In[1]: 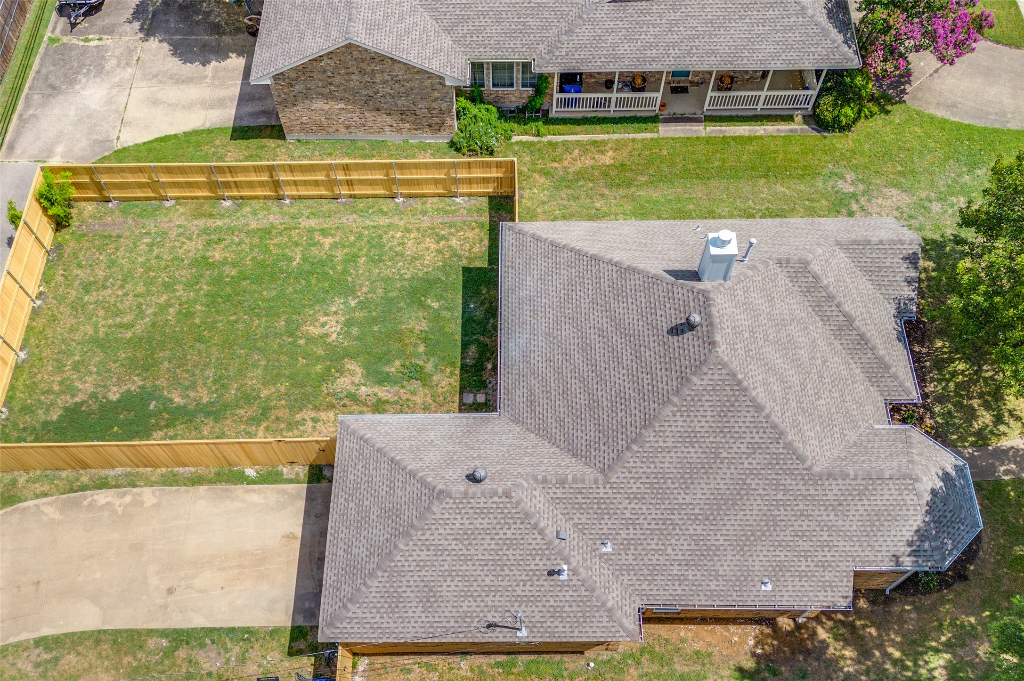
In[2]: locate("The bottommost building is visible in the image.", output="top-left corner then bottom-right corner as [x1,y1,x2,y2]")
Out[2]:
[316,217,983,654]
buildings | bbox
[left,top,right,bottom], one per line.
[316,217,983,654]
[250,0,863,140]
